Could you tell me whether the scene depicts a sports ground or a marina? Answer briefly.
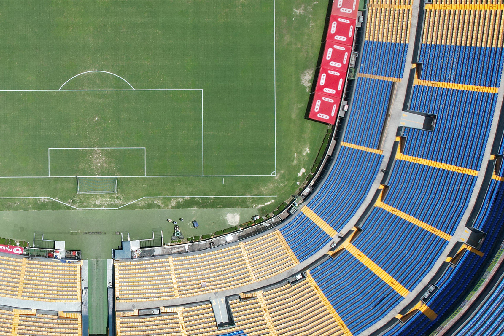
sports ground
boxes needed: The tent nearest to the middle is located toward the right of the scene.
[304,93,340,126]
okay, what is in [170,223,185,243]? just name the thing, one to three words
work vehicle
